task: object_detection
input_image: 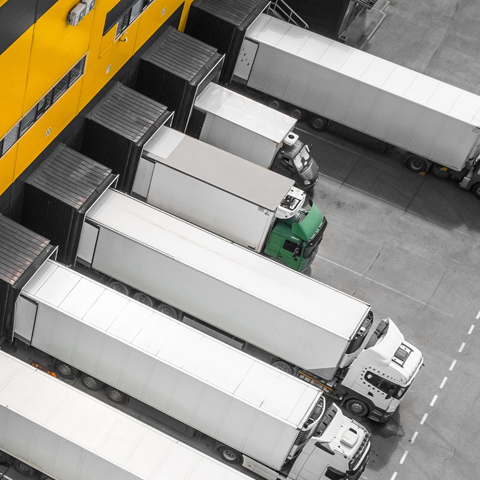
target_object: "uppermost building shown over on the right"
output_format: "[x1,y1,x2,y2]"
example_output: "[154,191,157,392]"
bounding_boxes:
[268,0,362,39]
